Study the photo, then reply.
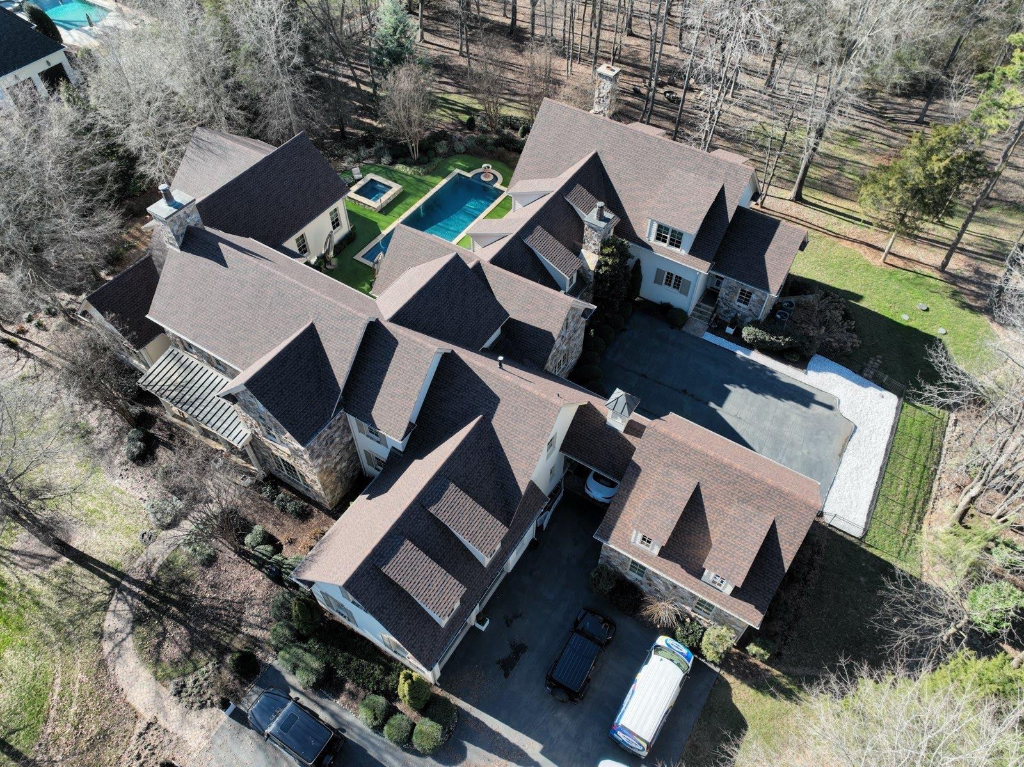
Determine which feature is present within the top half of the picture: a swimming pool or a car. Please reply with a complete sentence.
What appears within the top half of the picture is a swimming pool.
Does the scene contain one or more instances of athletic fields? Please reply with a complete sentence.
No, no athletic field is visible in the scene.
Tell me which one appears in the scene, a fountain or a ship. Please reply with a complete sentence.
There is a fountain in the scene.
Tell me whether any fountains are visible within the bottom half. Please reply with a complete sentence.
No, no fountain is visible within the bottom half.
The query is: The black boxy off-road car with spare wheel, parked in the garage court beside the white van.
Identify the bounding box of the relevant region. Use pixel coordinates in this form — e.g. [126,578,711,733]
[543,610,621,710]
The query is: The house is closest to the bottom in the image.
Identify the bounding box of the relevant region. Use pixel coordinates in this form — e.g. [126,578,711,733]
[76,64,821,698]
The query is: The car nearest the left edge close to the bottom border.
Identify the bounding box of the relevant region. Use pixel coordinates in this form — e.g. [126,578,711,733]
[246,685,345,767]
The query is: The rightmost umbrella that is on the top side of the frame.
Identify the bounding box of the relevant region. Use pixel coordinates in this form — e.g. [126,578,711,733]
[361,250,375,286]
